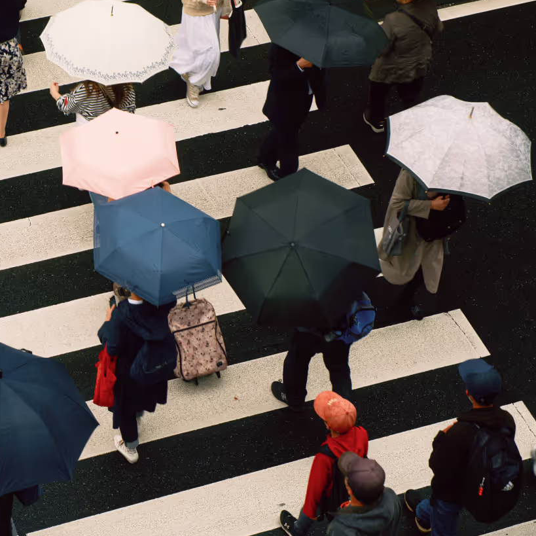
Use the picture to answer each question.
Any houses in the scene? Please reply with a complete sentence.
No, this view has no house in it.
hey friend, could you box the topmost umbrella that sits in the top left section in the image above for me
[40,0,177,85]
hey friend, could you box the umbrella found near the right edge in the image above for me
[387,93,535,213]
